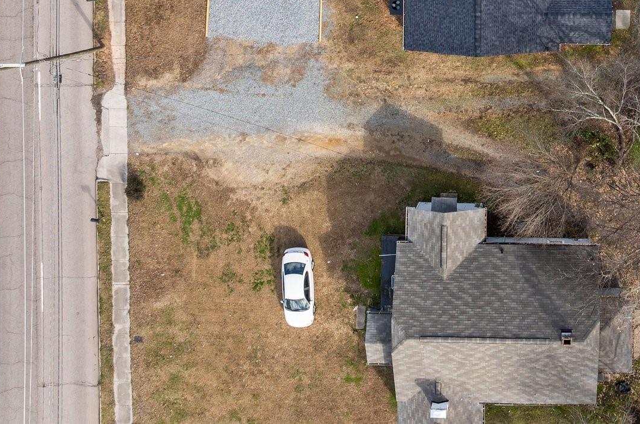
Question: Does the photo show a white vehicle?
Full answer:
Yes, this view includes a white vehicle.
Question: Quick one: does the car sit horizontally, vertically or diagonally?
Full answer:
Seen from above, the car lies vertically.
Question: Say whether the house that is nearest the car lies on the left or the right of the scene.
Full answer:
The house that is nearest the car is on the right side of the image.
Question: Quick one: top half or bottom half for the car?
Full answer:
The car sits in the bottom half of the picture.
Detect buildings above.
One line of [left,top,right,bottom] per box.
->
[402,0,614,56]
[364,197,635,424]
